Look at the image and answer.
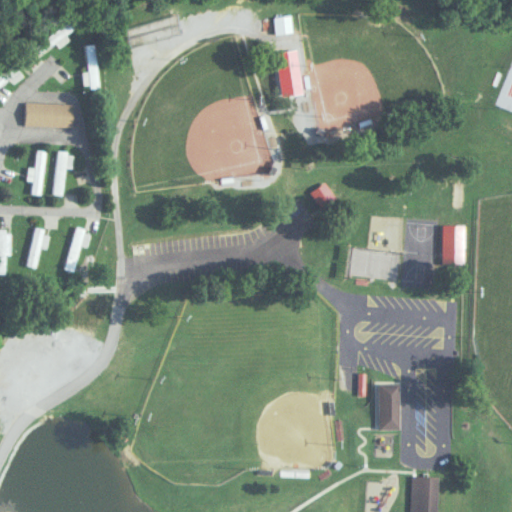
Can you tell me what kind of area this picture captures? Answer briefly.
sports ground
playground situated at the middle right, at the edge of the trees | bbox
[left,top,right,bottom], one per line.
[368,216,404,253]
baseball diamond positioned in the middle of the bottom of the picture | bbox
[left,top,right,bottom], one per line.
[131,282,339,486]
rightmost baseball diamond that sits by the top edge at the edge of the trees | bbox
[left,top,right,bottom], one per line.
[298,13,444,133]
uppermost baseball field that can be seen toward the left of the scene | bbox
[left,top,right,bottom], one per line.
[132,36,273,192]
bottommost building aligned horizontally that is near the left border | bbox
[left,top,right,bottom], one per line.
[26,103,74,127]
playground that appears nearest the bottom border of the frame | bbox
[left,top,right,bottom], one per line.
[366,474,399,512]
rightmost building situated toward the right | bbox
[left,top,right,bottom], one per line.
[442,225,467,266]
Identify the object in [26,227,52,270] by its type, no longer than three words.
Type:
house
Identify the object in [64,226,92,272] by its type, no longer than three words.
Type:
house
